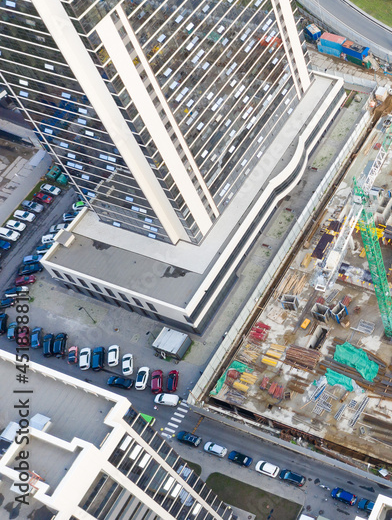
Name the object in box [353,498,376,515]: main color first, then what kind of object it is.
blue car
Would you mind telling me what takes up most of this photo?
buildings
